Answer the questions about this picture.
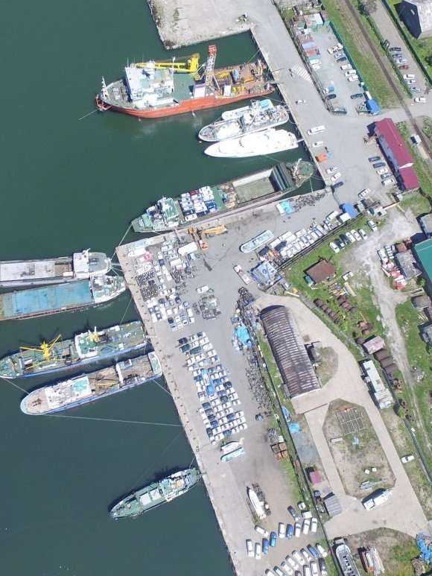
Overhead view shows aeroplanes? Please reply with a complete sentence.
No, there isn't any aeroplane down there.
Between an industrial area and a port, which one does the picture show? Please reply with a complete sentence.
What you see here is a port.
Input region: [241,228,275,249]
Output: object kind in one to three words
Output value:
boat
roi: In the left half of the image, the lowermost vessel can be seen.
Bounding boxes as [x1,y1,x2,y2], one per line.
[110,463,205,518]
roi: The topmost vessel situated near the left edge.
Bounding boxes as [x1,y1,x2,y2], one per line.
[0,248,112,284]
